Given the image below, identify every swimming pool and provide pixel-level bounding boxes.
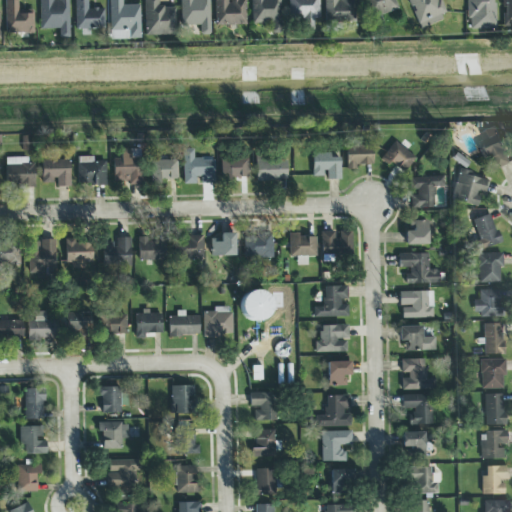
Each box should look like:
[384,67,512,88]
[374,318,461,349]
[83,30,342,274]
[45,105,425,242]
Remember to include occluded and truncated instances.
[453,121,480,155]
[434,188,446,208]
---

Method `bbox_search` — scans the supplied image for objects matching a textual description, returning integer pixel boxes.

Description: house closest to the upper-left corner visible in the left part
[6,0,36,38]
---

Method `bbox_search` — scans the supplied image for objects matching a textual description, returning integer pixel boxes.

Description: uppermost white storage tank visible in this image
[242,288,276,321]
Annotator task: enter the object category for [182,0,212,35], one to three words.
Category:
house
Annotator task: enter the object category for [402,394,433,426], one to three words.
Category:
house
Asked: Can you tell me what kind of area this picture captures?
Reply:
residential area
